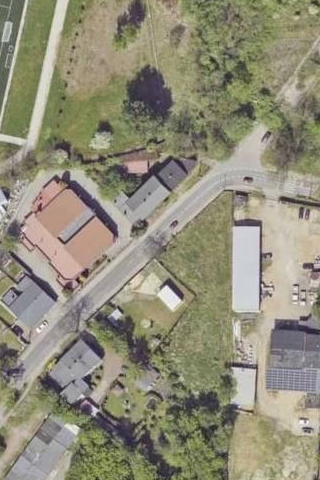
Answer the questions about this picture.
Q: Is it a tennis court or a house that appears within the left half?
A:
house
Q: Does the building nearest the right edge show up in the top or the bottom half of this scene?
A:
bottom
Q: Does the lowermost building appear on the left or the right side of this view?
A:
left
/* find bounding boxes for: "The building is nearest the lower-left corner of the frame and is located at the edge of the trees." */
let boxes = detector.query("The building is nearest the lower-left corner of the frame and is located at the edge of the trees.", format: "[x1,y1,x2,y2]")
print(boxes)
[6,415,80,480]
